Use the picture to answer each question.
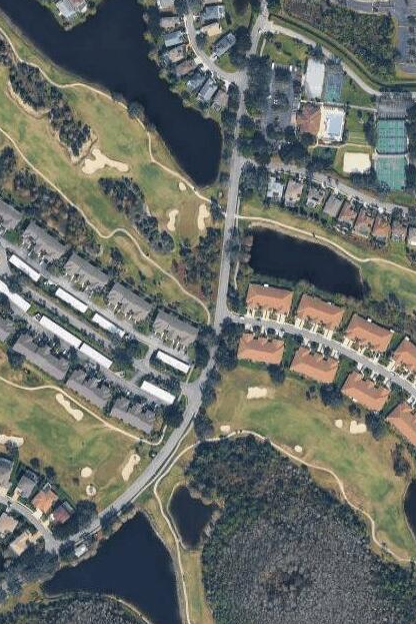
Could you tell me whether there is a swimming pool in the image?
Yes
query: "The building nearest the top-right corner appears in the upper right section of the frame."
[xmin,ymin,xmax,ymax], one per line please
[292,104,321,133]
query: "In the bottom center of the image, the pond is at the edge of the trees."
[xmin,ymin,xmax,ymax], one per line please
[170,486,219,549]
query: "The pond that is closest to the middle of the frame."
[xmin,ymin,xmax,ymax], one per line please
[248,229,364,297]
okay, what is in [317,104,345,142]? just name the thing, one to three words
swimming pool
